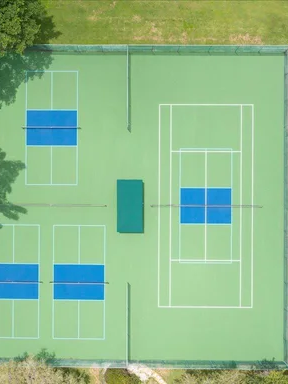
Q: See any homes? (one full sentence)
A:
No, I can see no home in this picture.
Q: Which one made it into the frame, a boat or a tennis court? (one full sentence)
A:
Visible in the photo is a tennis court.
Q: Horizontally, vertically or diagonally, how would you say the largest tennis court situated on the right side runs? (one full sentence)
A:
The largest tennis court situated on the right side has been laid out vertically relative to the frame.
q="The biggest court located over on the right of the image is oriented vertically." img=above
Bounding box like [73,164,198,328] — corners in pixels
[157,104,253,308]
